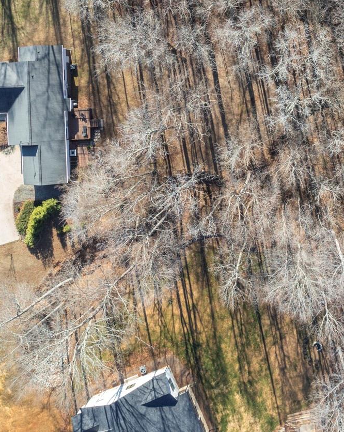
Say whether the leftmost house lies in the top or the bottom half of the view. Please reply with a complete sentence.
It is in the top half that the leftmost house appears.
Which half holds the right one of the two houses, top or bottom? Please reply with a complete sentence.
The bottom half of the photo is where the right one of the two houses is.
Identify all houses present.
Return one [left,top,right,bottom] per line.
[0,44,76,186]
[70,366,204,432]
